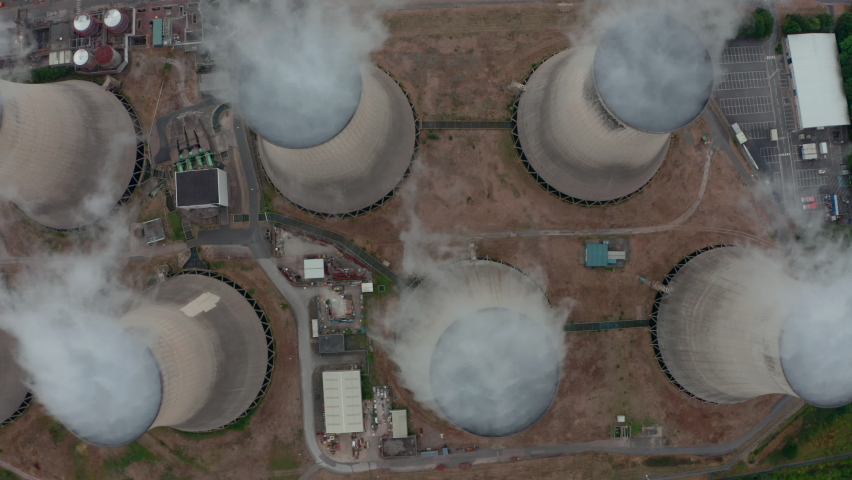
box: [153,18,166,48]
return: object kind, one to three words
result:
building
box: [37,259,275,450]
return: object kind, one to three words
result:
cooling tower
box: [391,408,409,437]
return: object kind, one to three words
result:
shed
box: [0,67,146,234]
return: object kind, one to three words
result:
cooling tower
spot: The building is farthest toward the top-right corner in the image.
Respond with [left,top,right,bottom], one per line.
[781,32,850,134]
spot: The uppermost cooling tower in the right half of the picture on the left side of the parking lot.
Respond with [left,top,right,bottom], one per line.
[505,7,717,205]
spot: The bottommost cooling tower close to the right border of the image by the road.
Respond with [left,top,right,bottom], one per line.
[637,241,852,413]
